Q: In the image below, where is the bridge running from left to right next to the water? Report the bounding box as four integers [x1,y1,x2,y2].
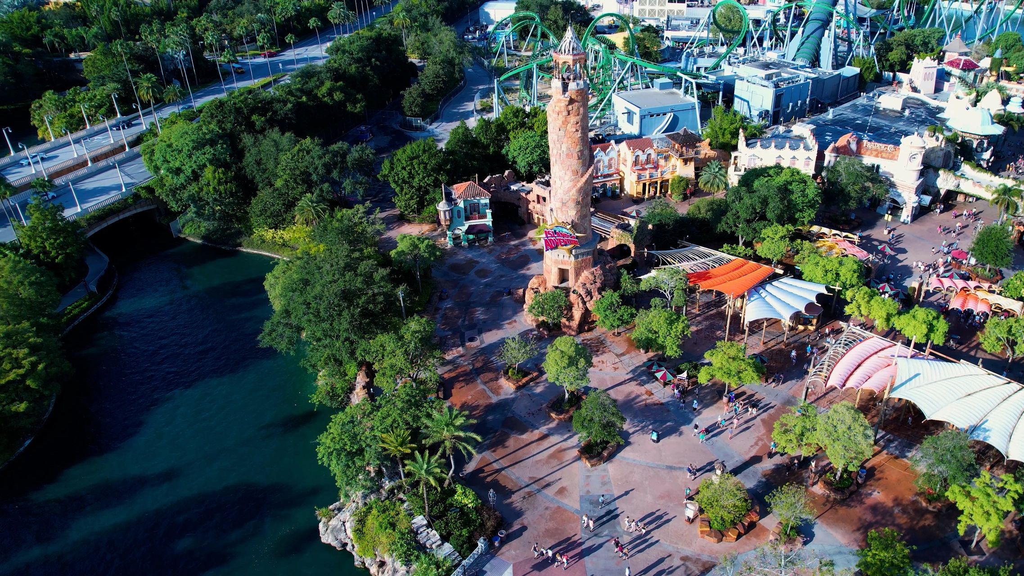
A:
[0,107,274,249]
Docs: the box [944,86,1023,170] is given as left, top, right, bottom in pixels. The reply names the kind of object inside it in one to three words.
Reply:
building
